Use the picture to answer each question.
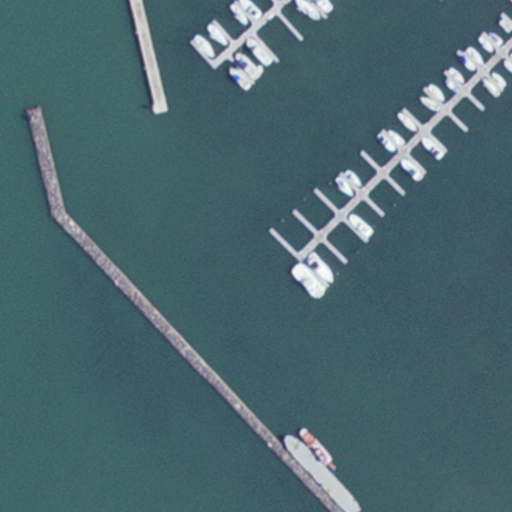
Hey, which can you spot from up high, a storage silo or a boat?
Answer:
boat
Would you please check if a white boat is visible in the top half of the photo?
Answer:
Yes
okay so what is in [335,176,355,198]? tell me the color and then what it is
white boat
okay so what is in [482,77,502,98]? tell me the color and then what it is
white boat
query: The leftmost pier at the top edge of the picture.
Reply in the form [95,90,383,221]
[130,0,167,115]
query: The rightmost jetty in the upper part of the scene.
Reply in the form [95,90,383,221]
[274,12,512,284]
